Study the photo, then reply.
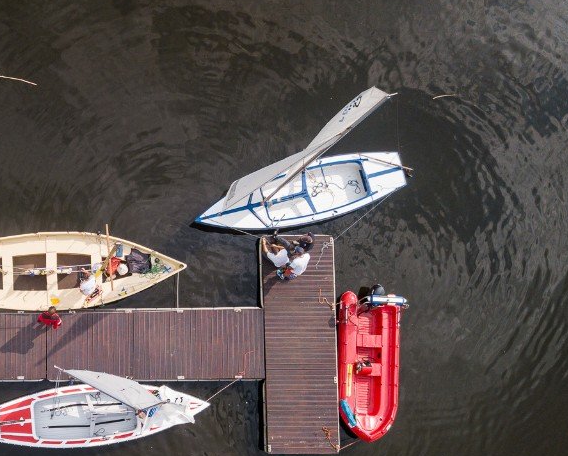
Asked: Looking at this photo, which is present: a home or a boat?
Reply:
boat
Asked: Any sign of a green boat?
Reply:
No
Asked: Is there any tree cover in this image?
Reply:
No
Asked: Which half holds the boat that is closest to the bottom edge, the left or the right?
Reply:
left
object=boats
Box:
[0,367,211,448]
[193,86,413,233]
[0,231,188,310]
[334,278,409,442]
